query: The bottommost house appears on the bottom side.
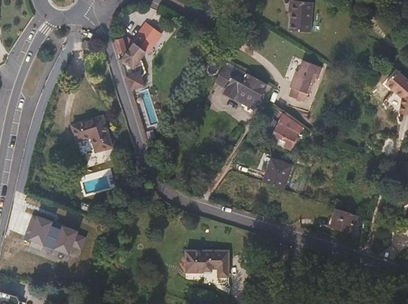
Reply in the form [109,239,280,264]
[180,250,229,280]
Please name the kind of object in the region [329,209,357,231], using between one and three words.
house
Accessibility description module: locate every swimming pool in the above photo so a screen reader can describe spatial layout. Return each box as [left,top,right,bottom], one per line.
[80,168,114,197]
[134,87,158,130]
